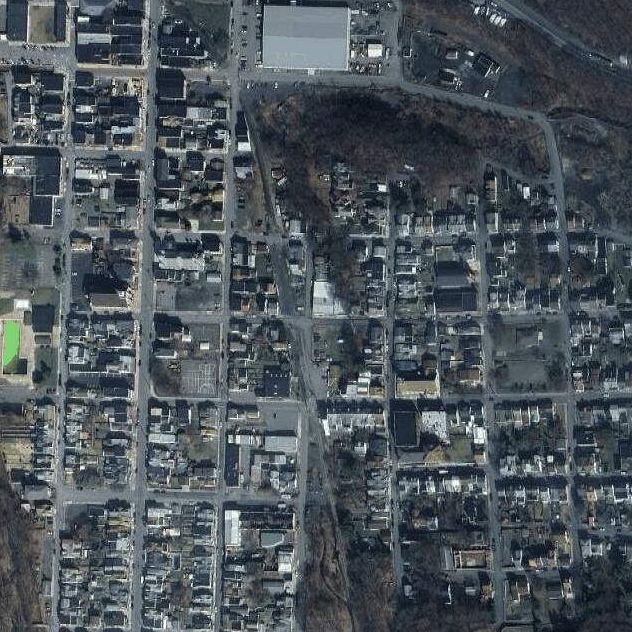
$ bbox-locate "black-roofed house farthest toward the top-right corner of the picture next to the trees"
[470,52,498,76]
